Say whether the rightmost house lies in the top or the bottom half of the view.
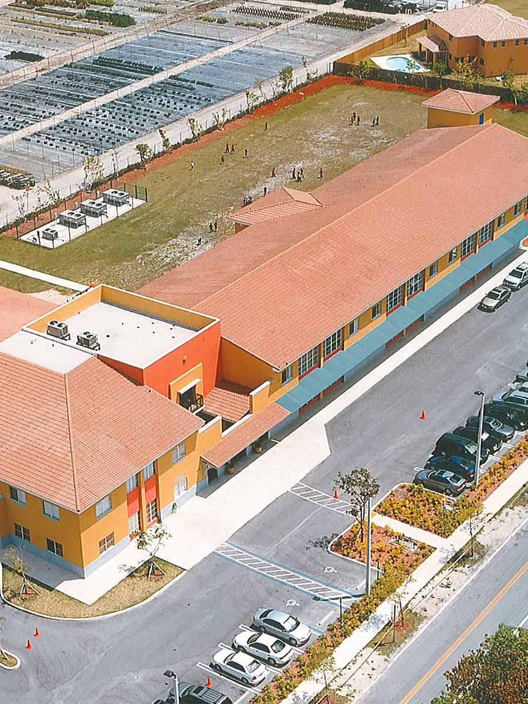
top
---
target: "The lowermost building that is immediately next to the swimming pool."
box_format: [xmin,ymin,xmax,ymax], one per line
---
[0,87,528,576]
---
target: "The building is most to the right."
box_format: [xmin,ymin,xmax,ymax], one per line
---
[416,10,528,76]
